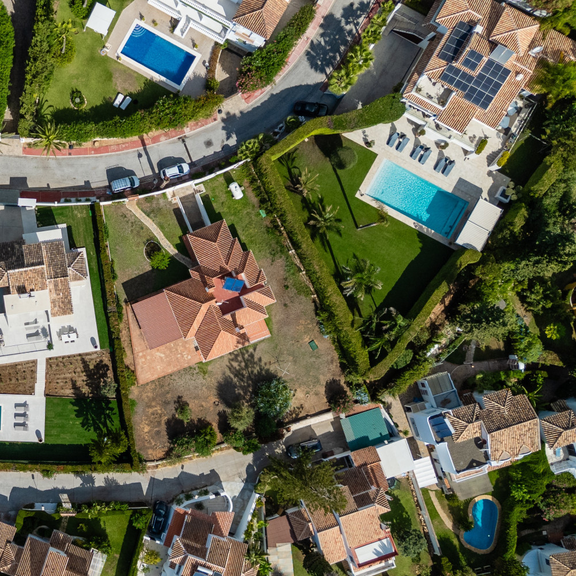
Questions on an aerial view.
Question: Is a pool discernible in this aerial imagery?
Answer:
Yes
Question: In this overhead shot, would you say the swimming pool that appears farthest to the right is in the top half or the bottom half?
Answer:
bottom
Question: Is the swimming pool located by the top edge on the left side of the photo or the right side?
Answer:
left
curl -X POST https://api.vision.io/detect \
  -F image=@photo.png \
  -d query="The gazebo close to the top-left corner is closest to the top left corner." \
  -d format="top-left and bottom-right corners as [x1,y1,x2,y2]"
[84,2,117,40]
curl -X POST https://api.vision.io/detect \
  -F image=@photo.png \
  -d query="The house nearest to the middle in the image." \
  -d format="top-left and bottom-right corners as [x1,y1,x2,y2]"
[132,219,277,361]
